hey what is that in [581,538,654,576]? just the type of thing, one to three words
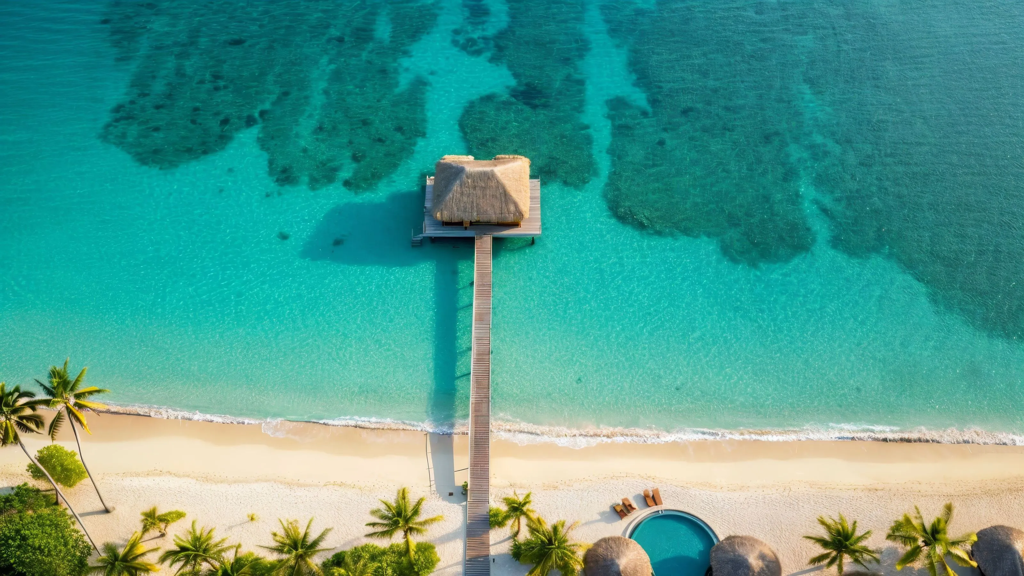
umbrella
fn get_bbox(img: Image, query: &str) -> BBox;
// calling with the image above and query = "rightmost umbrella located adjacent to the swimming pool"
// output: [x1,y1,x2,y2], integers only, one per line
[707,536,784,576]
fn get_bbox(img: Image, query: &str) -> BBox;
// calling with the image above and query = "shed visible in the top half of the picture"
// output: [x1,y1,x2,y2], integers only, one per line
[423,153,542,250]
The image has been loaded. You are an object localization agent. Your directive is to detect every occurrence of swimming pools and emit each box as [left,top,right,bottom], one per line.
[626,508,717,576]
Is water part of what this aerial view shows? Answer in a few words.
Yes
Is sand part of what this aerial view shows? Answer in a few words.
Yes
